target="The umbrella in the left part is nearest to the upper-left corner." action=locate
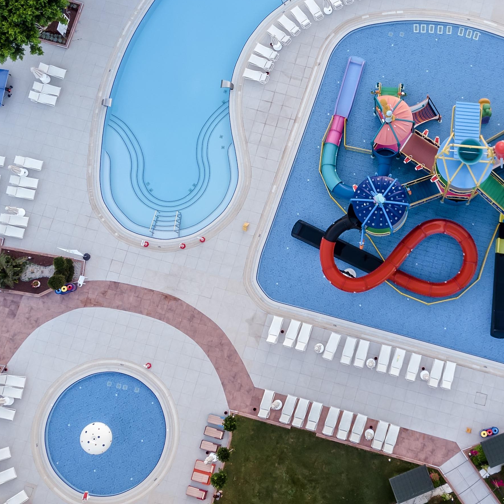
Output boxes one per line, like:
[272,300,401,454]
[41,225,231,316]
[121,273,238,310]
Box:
[31,68,52,84]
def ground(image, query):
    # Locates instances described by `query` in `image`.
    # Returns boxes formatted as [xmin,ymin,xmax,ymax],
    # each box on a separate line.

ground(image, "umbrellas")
[420,370,430,380]
[4,206,26,216]
[31,68,52,84]
[0,396,15,407]
[271,36,282,52]
[8,165,29,177]
[271,399,282,410]
[323,0,333,17]
[364,429,374,439]
[314,343,324,353]
[365,358,375,368]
